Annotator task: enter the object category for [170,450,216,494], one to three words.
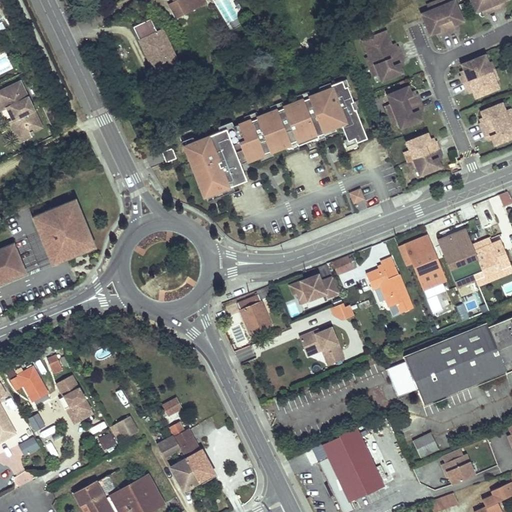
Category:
house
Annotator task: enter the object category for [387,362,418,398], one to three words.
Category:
building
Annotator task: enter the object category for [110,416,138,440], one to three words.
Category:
barn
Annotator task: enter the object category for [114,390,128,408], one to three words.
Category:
vehicle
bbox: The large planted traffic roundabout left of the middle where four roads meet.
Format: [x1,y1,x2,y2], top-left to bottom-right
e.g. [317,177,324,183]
[110,212,219,322]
